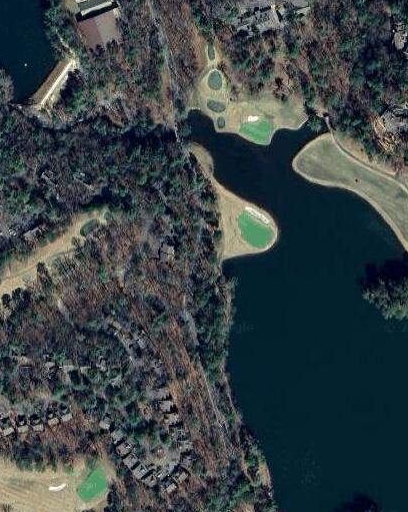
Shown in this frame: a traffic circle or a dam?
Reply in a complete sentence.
The one in the frame is a dam.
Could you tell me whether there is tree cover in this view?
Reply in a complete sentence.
Yes, there is tree cover in the image.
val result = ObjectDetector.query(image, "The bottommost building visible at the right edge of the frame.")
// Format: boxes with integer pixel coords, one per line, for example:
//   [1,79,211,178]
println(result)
[374,108,408,137]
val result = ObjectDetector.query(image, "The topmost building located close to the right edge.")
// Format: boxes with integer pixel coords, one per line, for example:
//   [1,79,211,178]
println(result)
[393,21,408,49]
